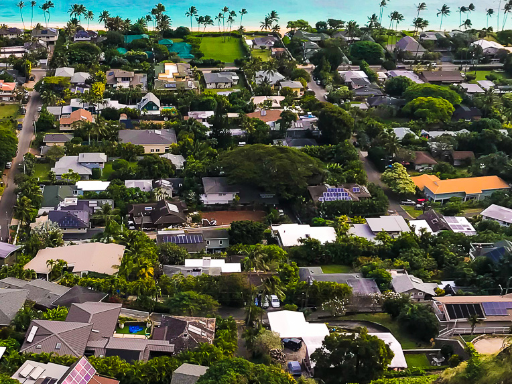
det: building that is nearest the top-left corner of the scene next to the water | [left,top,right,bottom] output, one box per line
[0,26,29,45]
